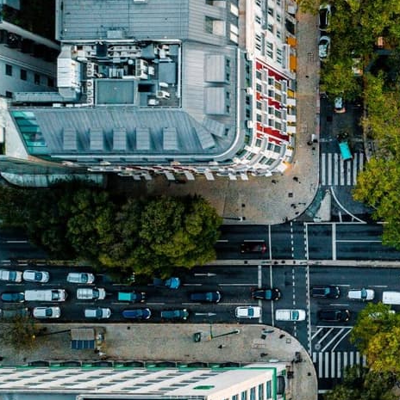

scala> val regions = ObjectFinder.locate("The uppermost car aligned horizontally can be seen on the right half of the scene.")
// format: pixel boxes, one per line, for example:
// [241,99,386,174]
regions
[239,241,269,255]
